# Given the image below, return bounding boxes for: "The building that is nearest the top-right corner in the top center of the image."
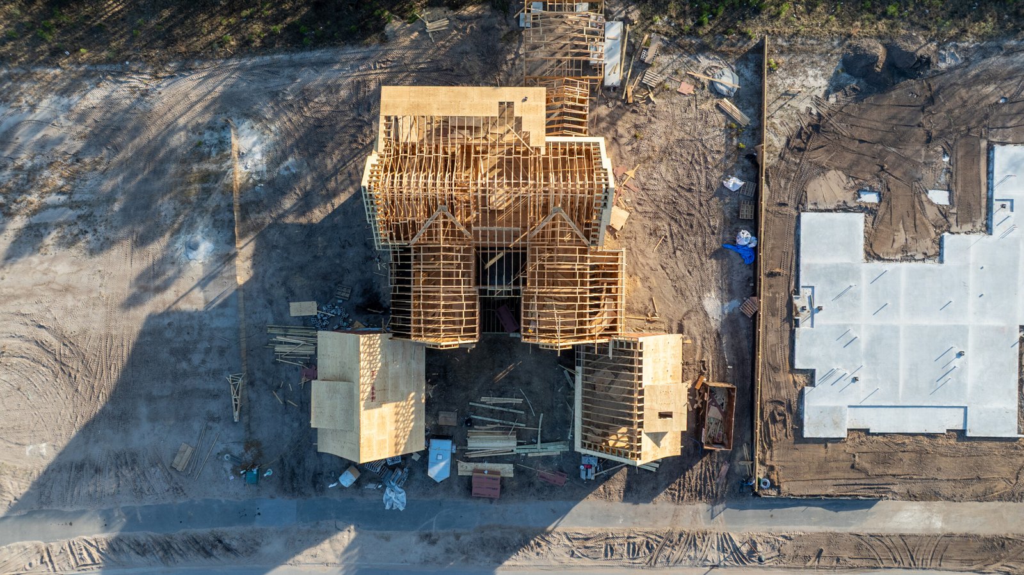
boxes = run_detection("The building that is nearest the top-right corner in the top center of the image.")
[505,0,605,136]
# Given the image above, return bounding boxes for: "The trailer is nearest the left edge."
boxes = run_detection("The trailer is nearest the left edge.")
[428,432,456,485]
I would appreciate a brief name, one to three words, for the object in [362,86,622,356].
house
